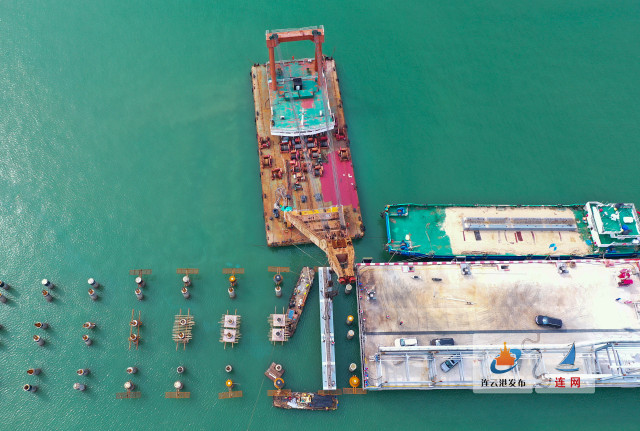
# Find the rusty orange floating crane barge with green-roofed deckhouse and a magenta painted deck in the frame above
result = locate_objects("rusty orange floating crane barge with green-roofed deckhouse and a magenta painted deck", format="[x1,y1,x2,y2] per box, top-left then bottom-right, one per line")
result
[256,27,366,286]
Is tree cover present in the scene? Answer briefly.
No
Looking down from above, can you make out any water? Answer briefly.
Yes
